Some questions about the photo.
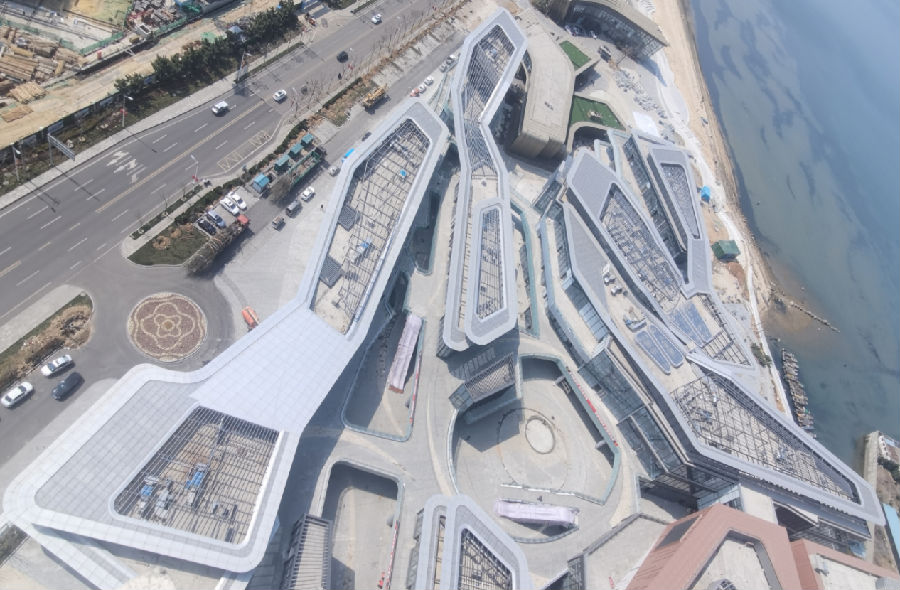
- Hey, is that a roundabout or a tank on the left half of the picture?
roundabout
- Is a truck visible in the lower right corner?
No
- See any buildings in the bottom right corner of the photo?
Yes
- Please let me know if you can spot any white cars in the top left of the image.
Yes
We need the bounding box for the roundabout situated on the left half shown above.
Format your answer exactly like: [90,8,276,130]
[127,294,206,361]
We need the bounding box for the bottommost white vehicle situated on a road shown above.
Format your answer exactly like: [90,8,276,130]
[0,382,36,405]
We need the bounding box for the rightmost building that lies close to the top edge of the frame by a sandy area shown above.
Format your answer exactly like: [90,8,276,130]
[561,0,669,62]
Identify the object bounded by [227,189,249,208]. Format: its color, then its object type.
white car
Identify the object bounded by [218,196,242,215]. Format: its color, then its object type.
white car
